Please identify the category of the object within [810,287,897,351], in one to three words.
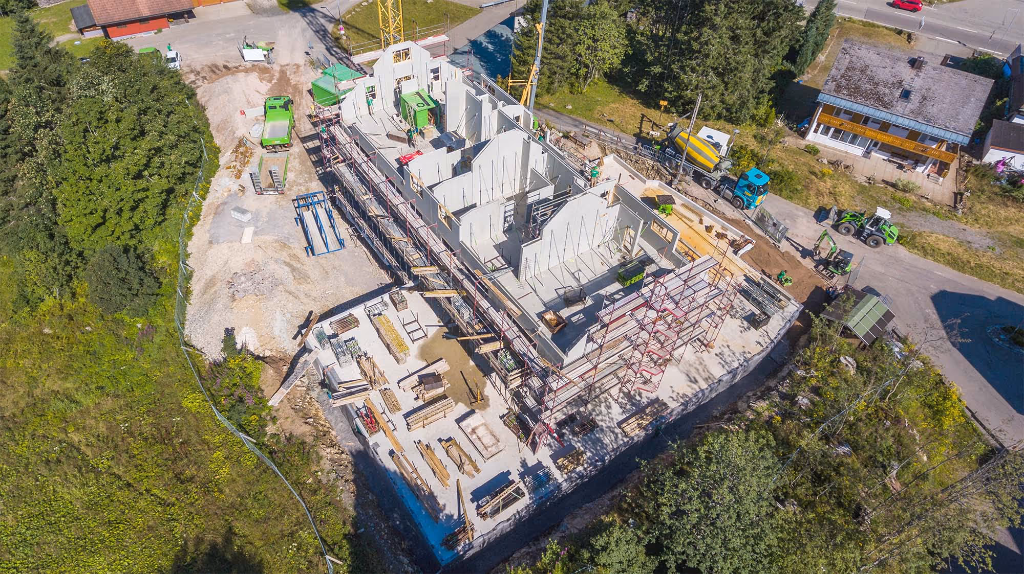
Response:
shed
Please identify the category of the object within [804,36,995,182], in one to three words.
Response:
house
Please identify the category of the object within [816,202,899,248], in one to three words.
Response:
work vehicle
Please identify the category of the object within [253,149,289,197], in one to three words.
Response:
trailer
